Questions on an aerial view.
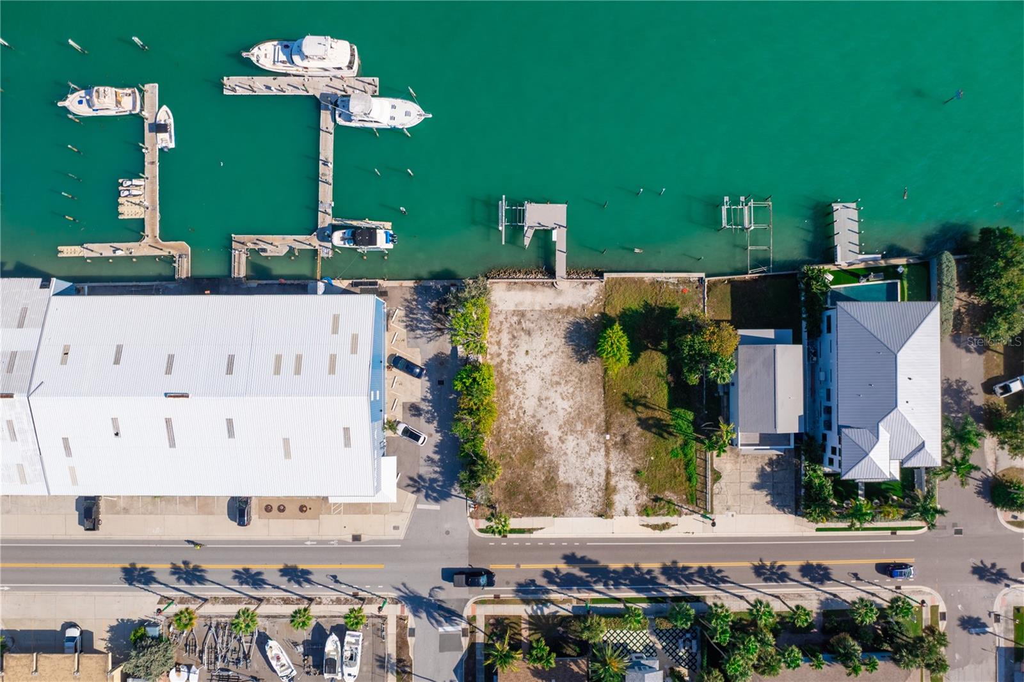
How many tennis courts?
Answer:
0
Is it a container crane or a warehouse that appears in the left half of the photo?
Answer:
warehouse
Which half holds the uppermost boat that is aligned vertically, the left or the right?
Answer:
left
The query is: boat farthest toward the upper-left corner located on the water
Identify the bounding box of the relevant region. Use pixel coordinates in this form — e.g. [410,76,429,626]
[60,87,143,116]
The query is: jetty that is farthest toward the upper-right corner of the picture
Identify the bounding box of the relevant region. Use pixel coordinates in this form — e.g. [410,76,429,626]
[825,199,886,263]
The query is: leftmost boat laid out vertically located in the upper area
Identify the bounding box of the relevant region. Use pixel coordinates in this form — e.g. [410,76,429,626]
[155,106,178,156]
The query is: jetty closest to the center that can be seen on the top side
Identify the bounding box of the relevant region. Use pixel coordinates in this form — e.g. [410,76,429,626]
[524,200,569,279]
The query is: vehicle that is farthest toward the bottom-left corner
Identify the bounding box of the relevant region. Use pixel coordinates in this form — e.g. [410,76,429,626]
[64,623,84,648]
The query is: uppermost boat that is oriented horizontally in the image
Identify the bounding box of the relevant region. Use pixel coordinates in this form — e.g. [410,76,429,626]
[239,35,363,78]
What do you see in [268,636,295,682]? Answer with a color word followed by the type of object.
white boat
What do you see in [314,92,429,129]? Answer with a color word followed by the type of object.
white boat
